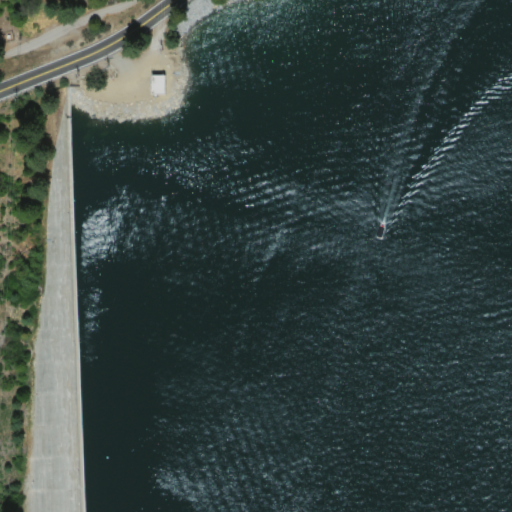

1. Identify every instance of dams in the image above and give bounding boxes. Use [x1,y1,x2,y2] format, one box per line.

[25,84,86,512]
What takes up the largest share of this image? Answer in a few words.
water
